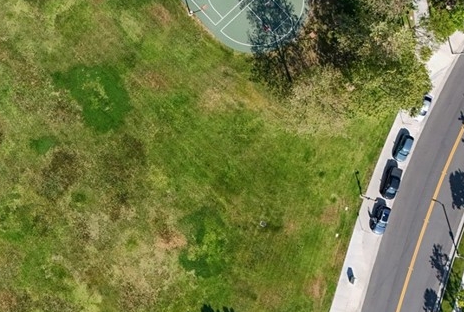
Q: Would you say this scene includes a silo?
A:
No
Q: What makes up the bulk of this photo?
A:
grass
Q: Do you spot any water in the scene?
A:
No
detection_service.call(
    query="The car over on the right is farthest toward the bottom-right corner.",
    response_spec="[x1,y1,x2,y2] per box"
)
[373,205,392,234]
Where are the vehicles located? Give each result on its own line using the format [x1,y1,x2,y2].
[393,133,414,162]
[373,205,392,234]
[411,92,434,122]
[381,165,404,200]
